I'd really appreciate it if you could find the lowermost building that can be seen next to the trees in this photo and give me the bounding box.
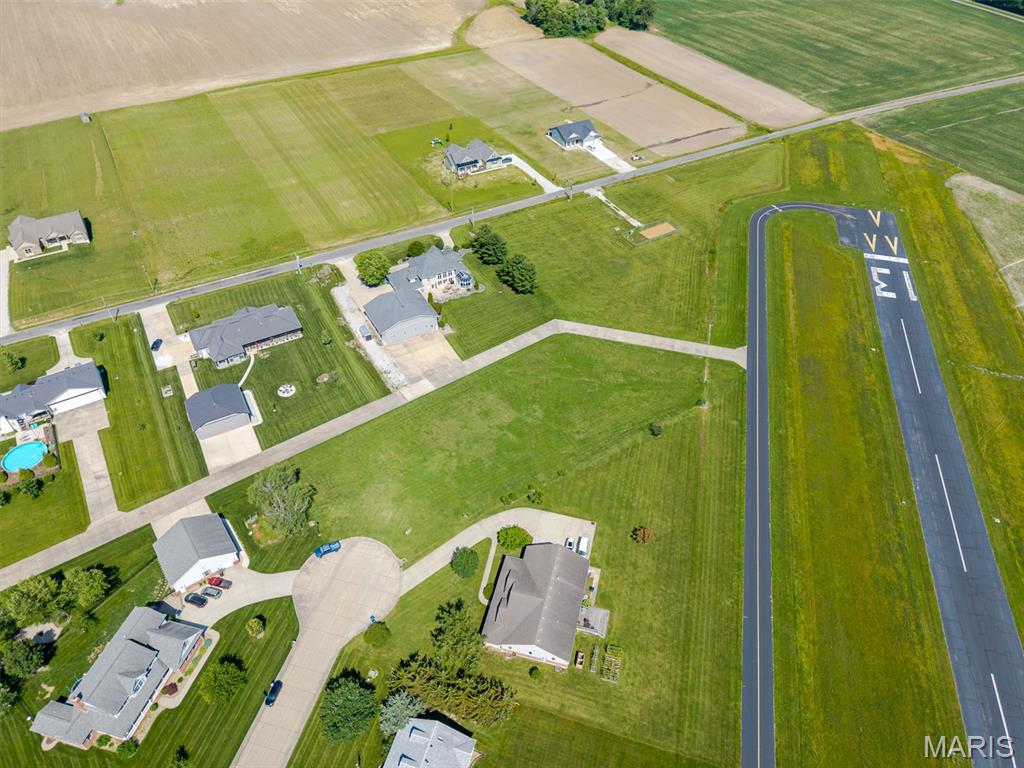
[385,718,477,768]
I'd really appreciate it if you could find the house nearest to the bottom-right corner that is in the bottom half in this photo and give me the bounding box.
[477,545,591,667]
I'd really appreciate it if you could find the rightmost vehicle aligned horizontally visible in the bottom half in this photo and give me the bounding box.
[314,540,341,555]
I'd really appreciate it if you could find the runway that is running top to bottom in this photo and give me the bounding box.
[864,213,1024,768]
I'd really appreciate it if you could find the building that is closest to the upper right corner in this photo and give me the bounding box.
[547,119,602,148]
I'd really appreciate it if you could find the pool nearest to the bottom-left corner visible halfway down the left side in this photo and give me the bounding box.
[1,443,49,471]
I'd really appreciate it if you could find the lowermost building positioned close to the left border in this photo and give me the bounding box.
[29,606,200,750]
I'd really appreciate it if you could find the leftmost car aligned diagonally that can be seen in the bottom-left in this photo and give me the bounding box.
[261,678,285,705]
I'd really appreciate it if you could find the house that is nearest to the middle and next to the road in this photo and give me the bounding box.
[363,244,476,340]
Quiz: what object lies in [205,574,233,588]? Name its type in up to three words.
vehicle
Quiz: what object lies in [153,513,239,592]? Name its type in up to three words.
building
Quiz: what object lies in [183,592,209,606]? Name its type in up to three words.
car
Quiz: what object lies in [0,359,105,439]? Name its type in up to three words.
house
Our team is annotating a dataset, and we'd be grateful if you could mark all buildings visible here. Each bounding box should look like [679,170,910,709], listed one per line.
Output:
[0,359,105,439]
[153,513,239,592]
[385,718,477,768]
[547,119,602,148]
[29,606,200,750]
[363,244,476,340]
[186,384,250,437]
[477,545,591,667]
[188,304,305,366]
[8,214,93,261]
[443,141,507,179]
